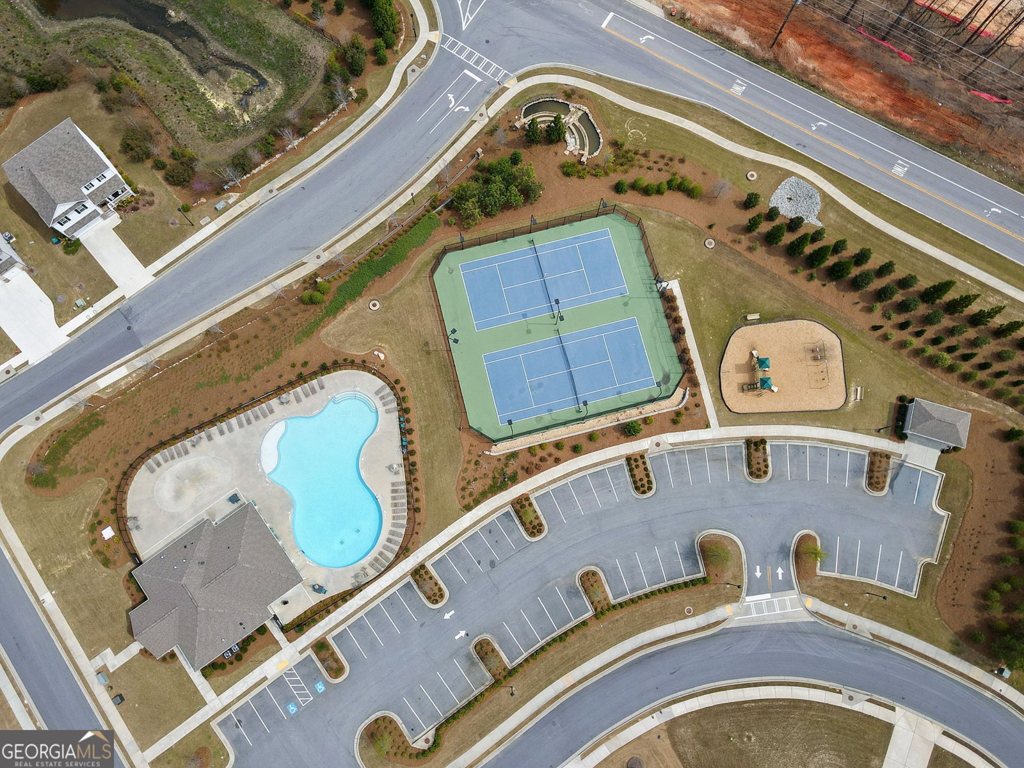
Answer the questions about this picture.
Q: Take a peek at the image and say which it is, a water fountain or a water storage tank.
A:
water fountain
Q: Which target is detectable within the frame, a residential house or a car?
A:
residential house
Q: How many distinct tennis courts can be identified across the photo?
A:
two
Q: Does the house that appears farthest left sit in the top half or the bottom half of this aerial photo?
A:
top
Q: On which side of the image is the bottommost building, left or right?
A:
left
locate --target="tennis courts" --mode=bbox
[482,316,656,425]
[459,227,629,331]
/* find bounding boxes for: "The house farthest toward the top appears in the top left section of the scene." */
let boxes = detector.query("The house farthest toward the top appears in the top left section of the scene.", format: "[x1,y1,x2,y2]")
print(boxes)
[3,117,137,242]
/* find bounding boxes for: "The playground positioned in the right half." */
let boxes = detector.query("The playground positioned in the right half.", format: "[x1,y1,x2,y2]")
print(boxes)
[719,317,850,415]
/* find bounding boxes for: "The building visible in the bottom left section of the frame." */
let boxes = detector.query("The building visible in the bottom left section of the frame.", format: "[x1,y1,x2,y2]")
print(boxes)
[129,501,304,672]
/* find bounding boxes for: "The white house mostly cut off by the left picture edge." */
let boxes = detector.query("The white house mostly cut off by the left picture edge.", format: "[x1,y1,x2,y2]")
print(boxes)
[0,232,28,285]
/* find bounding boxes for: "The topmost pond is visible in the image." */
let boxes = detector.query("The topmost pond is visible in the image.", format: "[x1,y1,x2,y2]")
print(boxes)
[35,0,266,83]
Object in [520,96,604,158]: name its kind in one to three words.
fountain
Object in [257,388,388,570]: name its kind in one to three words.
swimming pool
